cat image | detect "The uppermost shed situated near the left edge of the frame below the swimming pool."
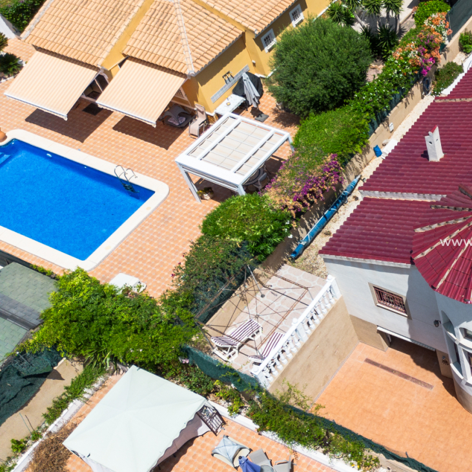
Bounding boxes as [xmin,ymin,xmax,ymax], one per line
[0,263,59,344]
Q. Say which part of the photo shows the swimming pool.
left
